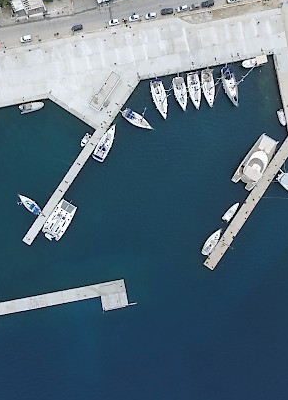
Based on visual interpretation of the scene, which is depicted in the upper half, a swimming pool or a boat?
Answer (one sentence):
Visible in the upper half is a boat.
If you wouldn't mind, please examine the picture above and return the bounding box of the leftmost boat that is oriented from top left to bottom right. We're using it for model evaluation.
[18,195,44,215]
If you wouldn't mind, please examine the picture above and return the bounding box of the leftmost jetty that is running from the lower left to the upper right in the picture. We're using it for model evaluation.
[22,127,108,245]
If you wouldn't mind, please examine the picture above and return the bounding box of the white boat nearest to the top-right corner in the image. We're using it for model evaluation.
[242,55,270,67]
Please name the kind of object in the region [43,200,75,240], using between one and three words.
boat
